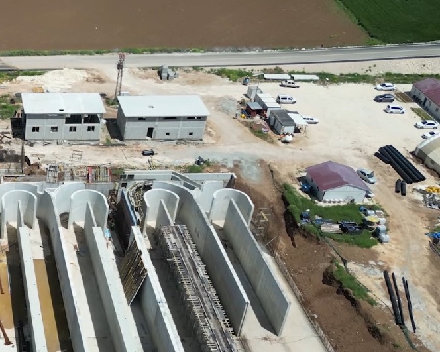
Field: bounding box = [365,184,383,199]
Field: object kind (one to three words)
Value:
car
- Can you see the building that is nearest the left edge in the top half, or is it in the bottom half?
top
